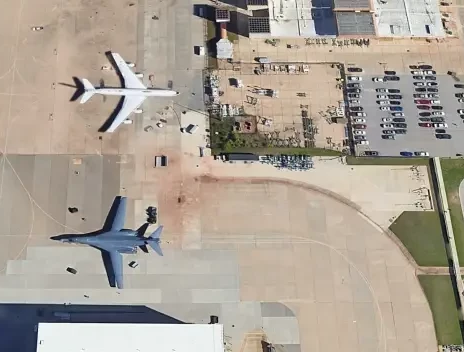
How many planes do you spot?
2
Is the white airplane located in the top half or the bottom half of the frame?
top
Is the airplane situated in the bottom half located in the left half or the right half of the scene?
left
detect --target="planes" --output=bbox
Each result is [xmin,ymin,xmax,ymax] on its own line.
[59,196,164,289]
[80,53,179,131]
